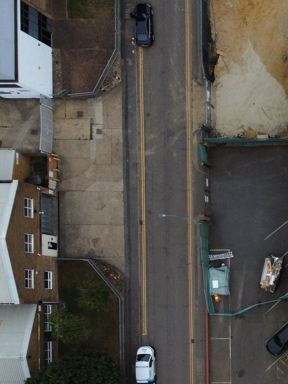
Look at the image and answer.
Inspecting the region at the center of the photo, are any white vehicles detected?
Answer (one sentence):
No, looking at the center of the photo, there is no white vehicle.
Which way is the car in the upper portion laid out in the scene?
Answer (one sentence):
The car in the upper portion is laid out up and down.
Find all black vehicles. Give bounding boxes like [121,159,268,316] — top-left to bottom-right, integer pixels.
[266,324,288,354]
[135,3,158,48]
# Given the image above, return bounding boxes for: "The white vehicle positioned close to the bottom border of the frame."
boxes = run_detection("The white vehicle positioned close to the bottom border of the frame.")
[134,346,158,384]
